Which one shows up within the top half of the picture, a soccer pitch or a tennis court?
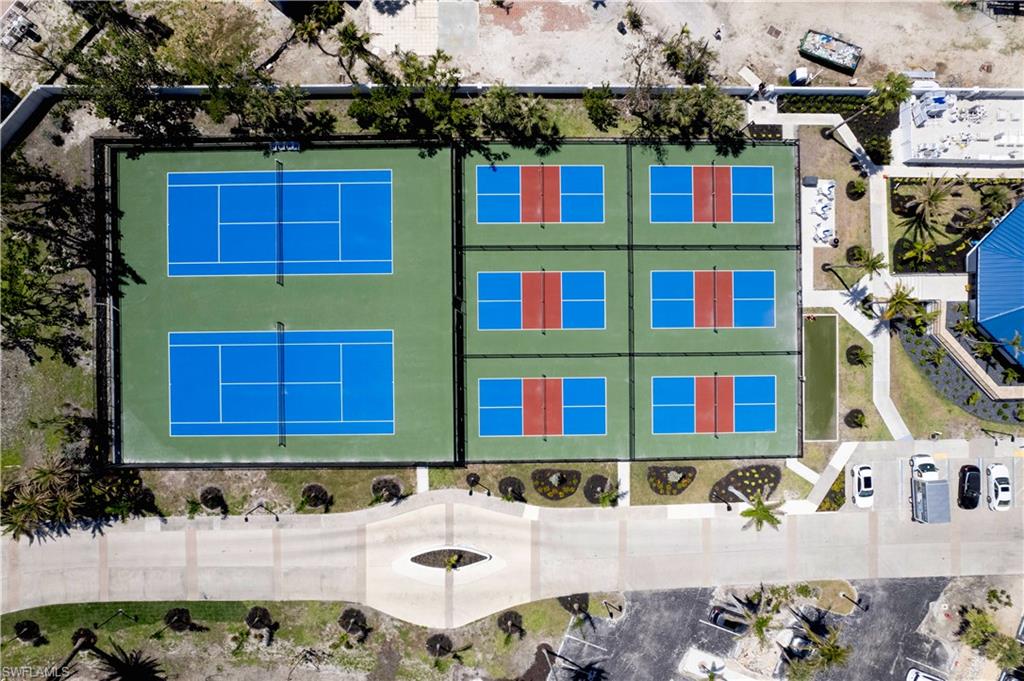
tennis court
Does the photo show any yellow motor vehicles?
No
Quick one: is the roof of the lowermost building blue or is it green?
blue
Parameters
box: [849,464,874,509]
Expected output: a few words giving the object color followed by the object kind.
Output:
white car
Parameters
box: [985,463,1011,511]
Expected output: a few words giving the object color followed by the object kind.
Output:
white car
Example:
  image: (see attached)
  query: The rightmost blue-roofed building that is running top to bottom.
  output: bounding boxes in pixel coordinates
[952,192,1024,369]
